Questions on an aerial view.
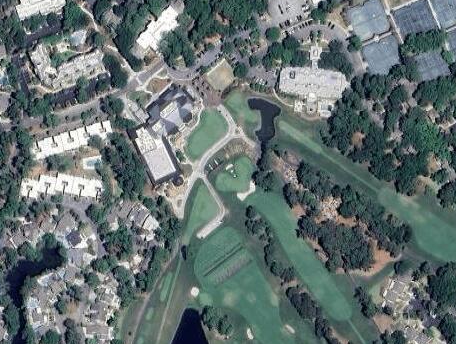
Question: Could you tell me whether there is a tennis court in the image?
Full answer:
Yes, a tennis court is visible in the scene.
